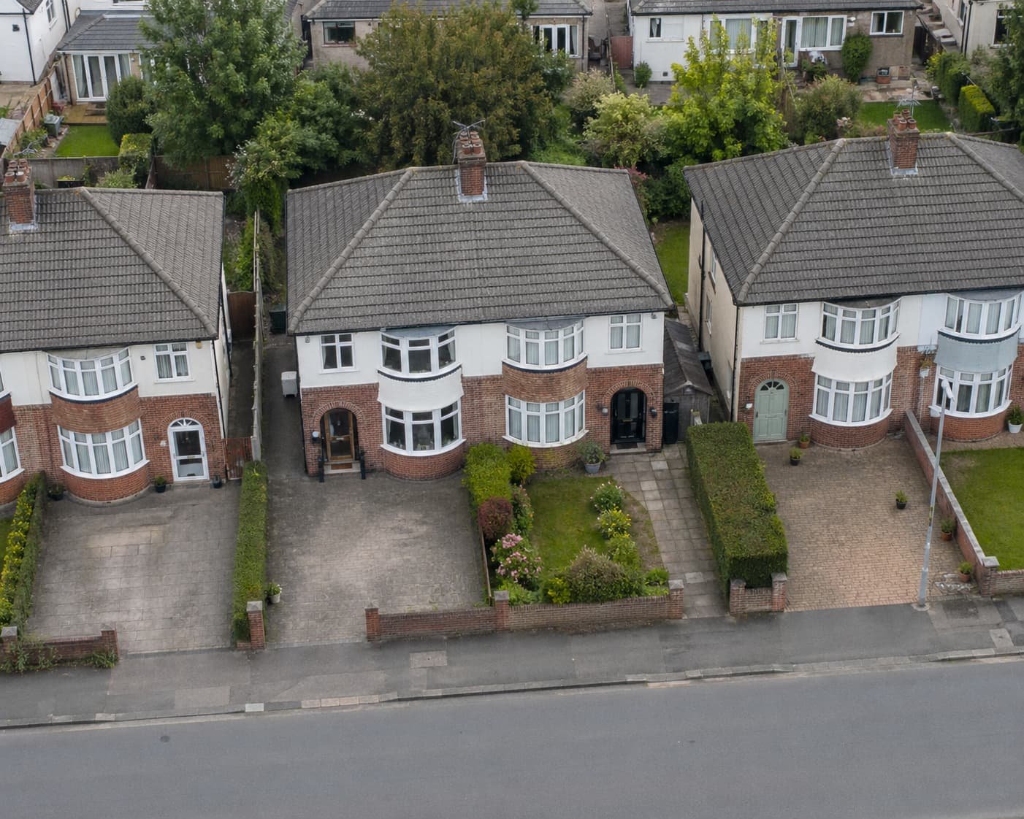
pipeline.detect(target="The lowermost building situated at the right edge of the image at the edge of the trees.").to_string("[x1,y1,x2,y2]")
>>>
[685,105,1024,450]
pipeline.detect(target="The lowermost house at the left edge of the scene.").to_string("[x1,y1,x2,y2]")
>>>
[0,158,229,504]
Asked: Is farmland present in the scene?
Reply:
No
